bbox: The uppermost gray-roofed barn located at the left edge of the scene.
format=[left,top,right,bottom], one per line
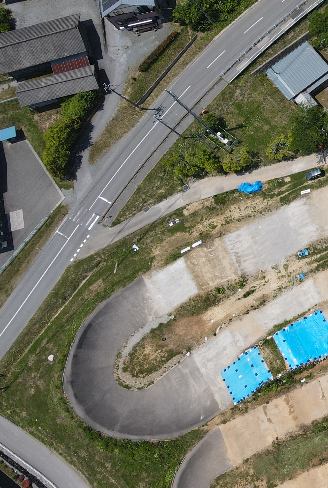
[0,13,94,82]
